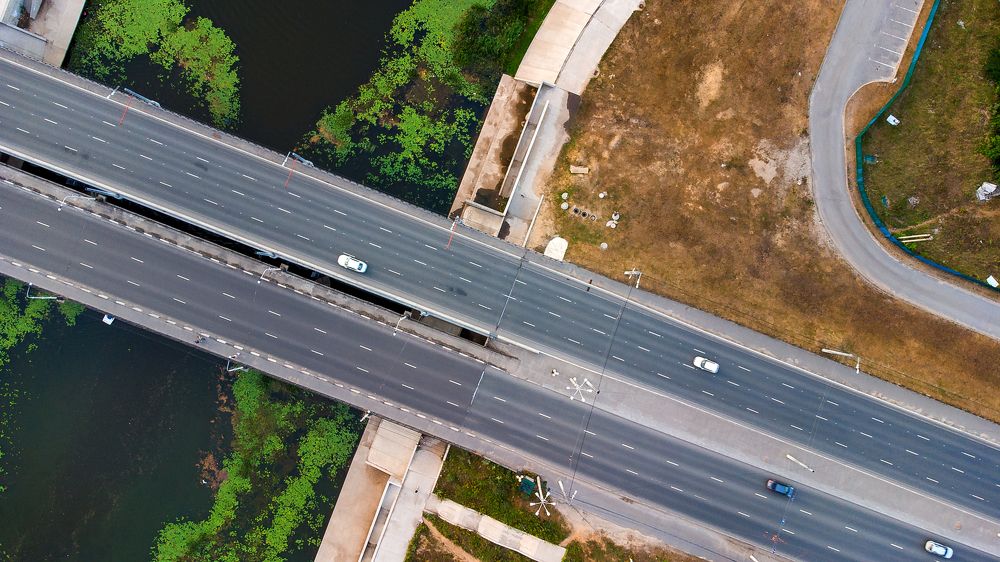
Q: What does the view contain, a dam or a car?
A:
car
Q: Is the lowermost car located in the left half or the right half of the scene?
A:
right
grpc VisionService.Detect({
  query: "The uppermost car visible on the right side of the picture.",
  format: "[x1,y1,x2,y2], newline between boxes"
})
[692,356,722,375]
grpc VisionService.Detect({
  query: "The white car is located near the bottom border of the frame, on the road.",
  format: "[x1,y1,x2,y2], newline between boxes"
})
[924,540,957,561]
